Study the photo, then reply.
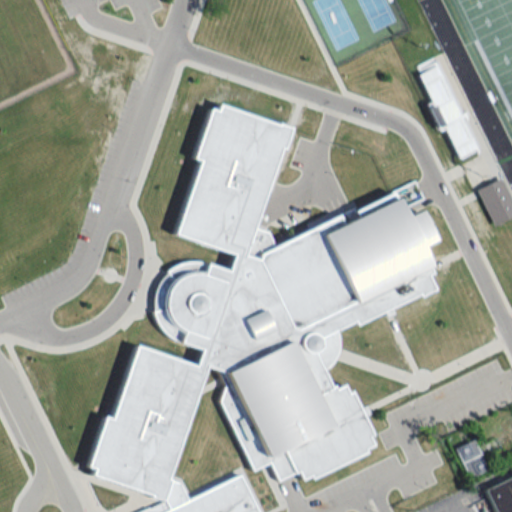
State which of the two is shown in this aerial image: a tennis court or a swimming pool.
tennis court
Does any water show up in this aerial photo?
No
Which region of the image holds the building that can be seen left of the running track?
center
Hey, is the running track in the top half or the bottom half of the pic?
top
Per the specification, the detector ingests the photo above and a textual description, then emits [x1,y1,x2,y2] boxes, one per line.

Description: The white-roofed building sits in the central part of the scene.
[85,103,442,512]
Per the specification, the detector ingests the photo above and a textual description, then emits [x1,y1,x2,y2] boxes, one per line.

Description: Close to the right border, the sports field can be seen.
[444,0,512,139]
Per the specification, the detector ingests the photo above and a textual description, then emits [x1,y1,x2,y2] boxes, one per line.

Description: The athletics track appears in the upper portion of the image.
[418,0,512,186]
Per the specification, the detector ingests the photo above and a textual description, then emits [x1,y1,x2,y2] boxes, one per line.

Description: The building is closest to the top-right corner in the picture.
[476,180,512,226]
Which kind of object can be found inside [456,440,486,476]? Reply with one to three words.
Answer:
building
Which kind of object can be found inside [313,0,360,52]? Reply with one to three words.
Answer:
tennis court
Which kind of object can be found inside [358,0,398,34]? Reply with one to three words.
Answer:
tennis court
